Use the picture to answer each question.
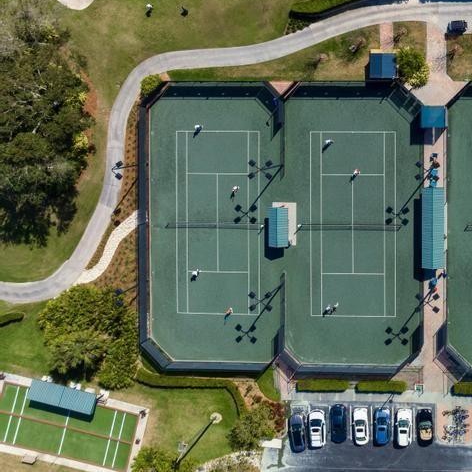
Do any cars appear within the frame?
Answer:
Yes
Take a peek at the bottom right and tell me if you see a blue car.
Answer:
Yes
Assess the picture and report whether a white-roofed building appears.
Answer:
No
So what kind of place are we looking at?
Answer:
sports ground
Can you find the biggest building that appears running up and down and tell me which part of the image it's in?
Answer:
right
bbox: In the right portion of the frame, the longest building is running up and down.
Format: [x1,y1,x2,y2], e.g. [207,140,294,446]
[421,185,445,270]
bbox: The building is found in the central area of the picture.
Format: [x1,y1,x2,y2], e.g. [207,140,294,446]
[269,205,292,248]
